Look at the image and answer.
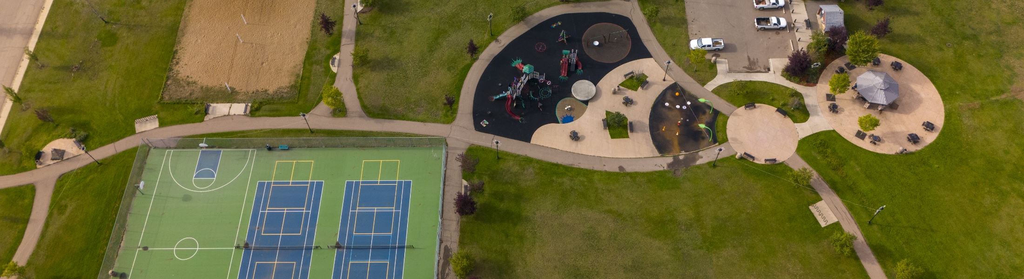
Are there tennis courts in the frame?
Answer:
Yes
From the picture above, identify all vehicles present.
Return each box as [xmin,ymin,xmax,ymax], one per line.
[753,0,786,10]
[690,38,725,51]
[754,17,788,30]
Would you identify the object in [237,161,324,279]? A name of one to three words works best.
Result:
tennis court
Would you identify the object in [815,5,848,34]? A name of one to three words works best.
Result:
shed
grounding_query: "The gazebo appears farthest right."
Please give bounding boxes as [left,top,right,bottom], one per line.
[852,69,899,112]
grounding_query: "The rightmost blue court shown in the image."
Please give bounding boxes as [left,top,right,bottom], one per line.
[332,160,412,279]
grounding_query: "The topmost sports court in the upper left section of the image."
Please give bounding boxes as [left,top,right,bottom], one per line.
[159,0,315,102]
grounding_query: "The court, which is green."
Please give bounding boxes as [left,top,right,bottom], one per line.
[111,146,443,279]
